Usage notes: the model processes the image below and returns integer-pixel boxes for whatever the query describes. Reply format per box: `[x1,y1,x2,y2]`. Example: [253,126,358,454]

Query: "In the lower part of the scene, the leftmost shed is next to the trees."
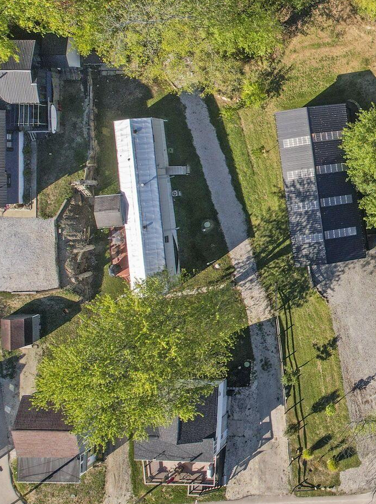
[3,312,50,350]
